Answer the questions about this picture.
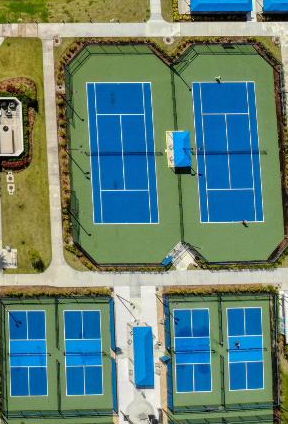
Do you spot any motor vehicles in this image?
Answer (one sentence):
No, I can't see a single motor vehicle in this photo.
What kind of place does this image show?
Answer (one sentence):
The picture captures a sports ground.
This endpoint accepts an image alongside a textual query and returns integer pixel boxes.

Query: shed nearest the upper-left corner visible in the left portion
[1,128,16,153]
